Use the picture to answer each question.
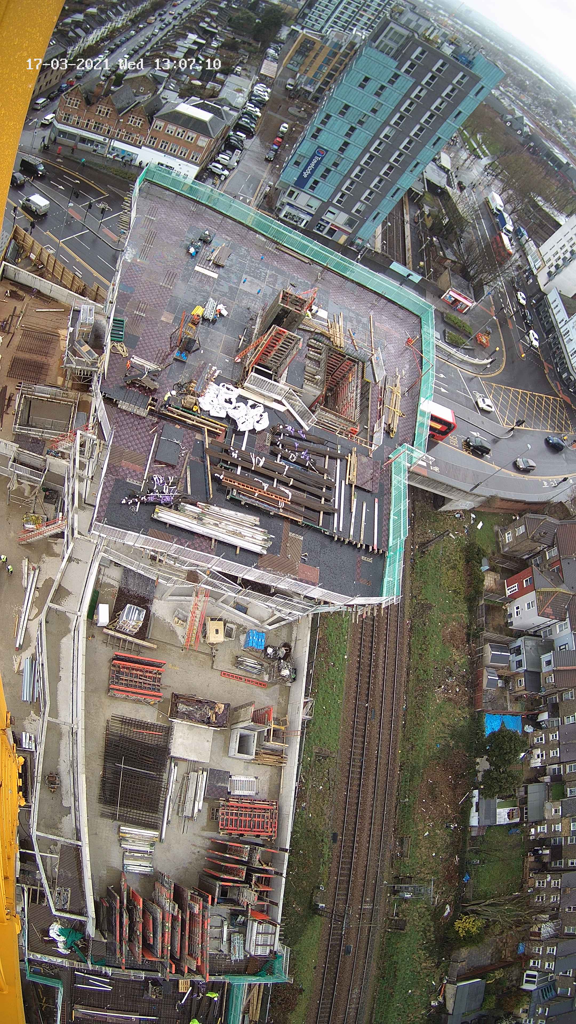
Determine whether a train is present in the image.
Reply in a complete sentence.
No, the picture doesn't show any train.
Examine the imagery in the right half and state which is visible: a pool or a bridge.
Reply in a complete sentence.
You can see a bridge in the right half.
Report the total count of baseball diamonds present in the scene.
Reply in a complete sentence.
There are no baseball diamonds in this view.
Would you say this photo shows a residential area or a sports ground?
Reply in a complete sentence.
The area seen from above is a residential area.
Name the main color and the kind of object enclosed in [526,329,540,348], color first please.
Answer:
white car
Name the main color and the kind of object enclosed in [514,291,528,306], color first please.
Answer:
white car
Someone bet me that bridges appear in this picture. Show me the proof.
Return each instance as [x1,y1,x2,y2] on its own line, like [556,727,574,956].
[400,469,494,519]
